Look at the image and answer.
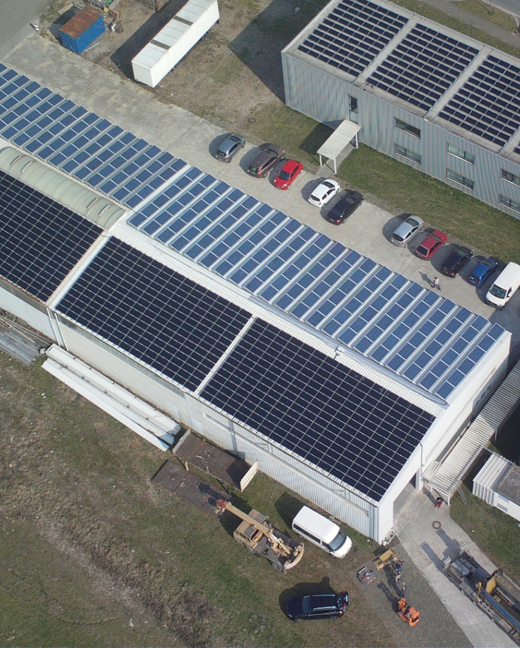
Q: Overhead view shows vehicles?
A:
Yes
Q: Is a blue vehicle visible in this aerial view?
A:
Yes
